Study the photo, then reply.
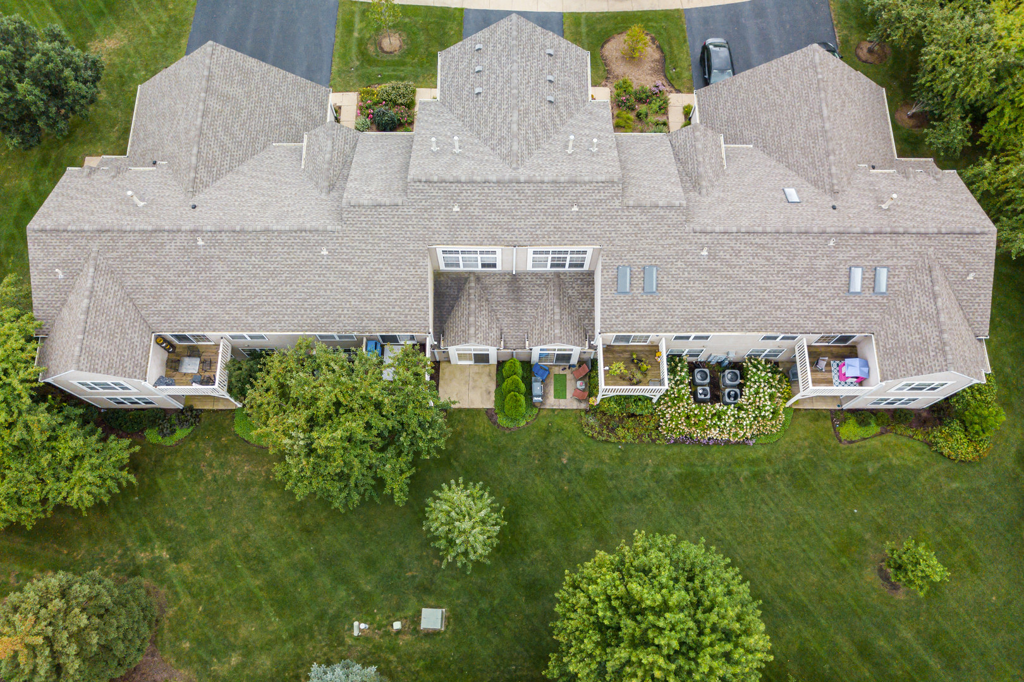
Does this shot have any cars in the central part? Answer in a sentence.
No, the scene shows no car in the central part.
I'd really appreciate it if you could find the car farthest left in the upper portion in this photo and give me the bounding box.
[699,38,735,86]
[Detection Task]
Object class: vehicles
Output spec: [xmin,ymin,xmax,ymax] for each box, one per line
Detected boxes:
[699,38,735,86]
[802,40,836,57]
